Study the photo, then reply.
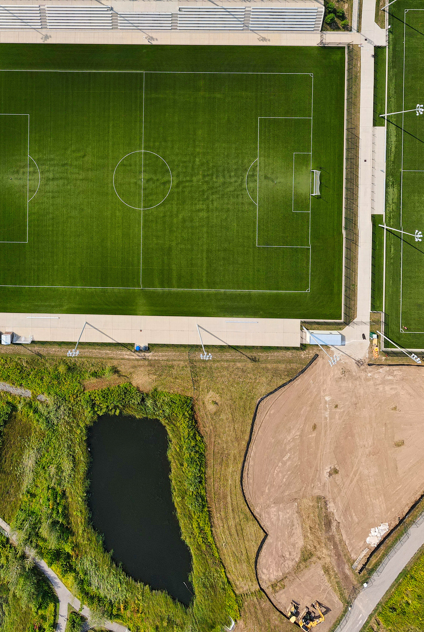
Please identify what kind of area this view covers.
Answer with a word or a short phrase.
sports ground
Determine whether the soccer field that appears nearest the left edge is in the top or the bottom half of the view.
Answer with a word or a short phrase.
top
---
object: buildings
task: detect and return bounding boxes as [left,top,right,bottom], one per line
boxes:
[304,330,344,346]
[1,332,13,346]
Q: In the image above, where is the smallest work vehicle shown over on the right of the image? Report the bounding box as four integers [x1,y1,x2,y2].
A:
[286,599,301,621]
